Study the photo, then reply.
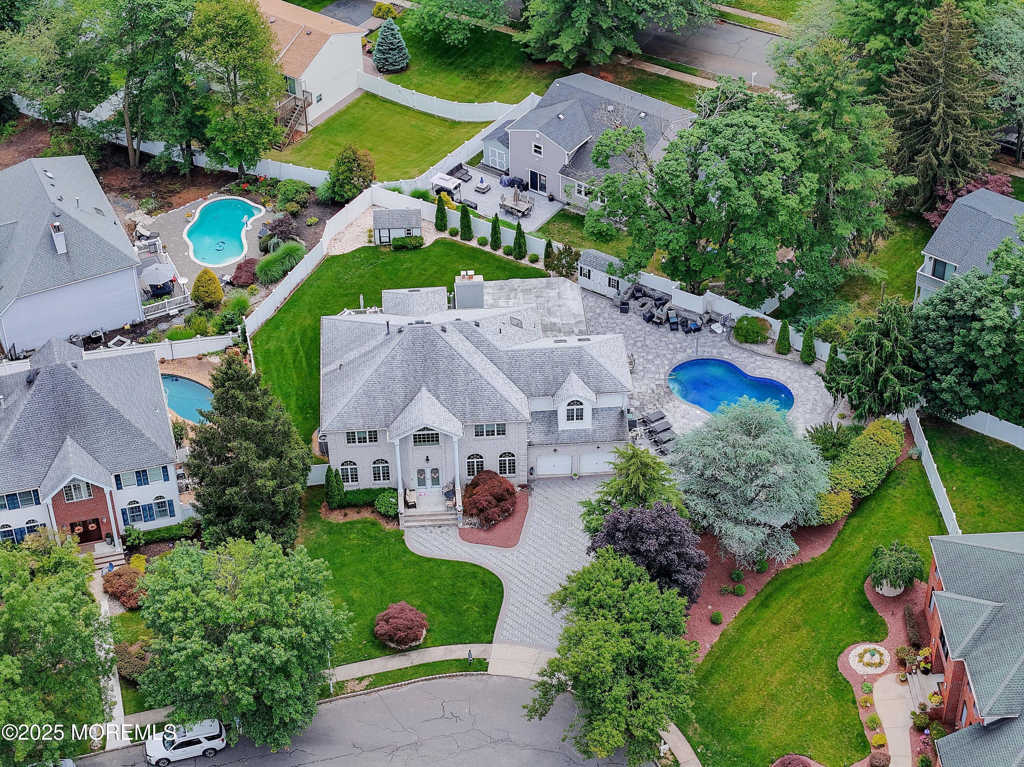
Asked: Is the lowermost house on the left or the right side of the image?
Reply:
right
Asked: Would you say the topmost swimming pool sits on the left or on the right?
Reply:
left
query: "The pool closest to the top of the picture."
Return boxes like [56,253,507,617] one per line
[183,196,266,266]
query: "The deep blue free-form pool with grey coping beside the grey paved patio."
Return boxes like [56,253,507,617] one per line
[663,355,799,425]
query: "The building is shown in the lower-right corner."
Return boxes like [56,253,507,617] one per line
[907,532,1024,767]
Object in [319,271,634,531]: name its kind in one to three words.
house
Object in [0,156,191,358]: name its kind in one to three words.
house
